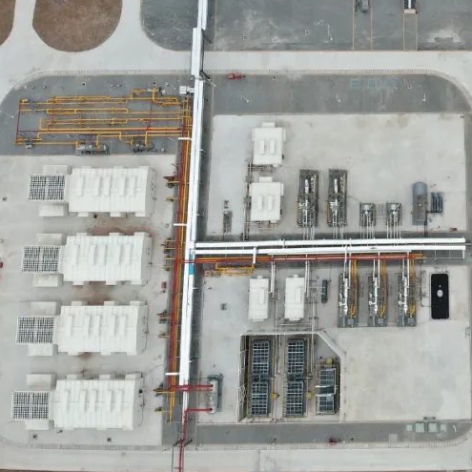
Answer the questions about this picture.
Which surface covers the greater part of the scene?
paved ground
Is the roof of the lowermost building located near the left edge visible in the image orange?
No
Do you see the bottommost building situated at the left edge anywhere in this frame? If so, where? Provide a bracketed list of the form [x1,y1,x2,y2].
[10,368,150,436]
